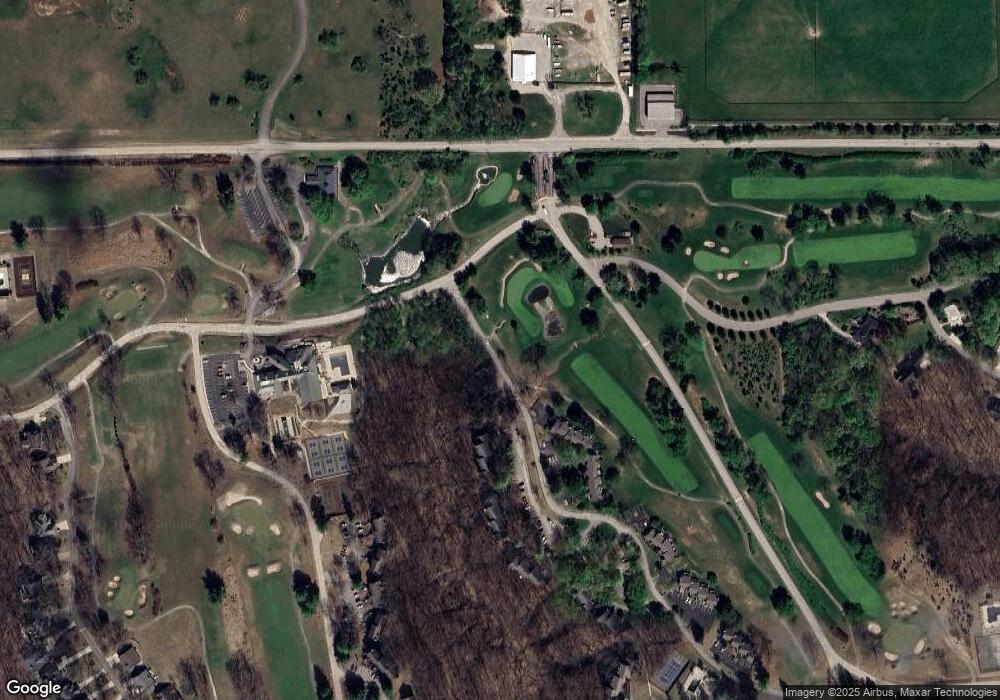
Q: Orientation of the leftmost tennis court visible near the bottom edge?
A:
diagonally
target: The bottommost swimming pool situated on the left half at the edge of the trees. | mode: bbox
[322,345,356,383]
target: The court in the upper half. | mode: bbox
[13,255,35,297]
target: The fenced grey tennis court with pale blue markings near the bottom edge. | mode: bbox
[648,652,689,692]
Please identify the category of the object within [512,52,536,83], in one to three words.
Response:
shed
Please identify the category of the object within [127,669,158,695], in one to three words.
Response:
house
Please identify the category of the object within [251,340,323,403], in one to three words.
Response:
building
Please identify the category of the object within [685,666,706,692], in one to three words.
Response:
swimming pool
